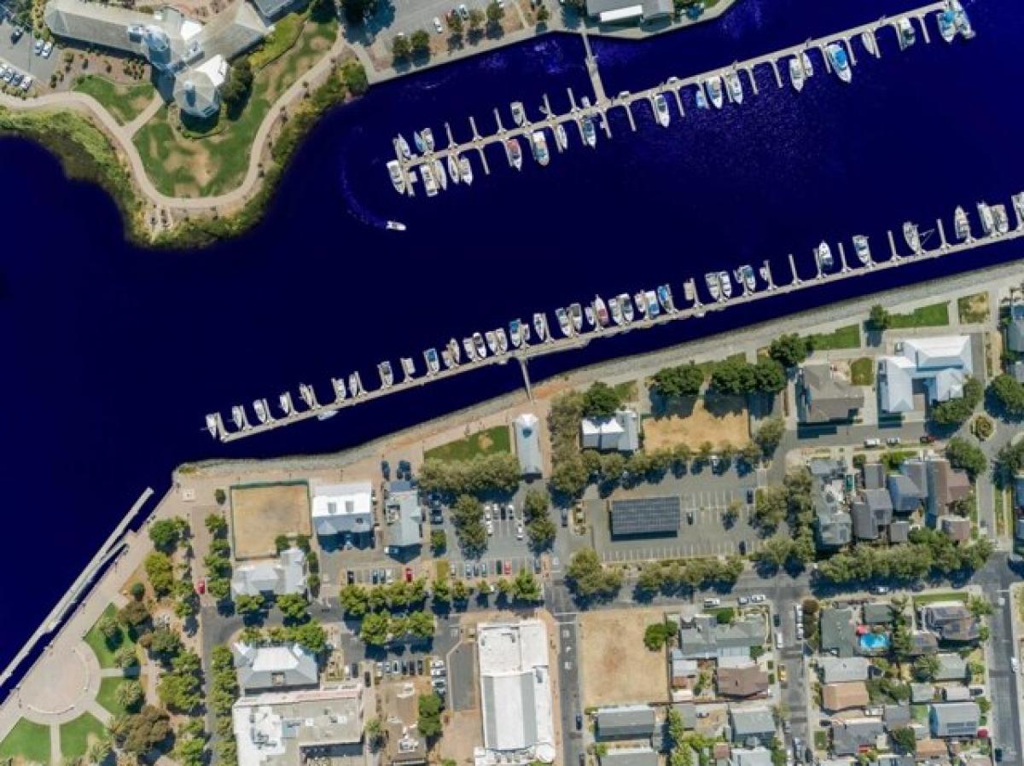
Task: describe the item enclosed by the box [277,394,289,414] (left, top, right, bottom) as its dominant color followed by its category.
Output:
white boat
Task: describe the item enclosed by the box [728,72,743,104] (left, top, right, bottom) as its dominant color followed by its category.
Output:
white boat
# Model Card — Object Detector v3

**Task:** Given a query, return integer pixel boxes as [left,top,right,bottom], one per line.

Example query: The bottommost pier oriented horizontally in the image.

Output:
[216,196,1024,442]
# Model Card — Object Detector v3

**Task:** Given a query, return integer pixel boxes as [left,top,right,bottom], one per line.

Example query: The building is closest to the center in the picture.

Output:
[515,413,541,475]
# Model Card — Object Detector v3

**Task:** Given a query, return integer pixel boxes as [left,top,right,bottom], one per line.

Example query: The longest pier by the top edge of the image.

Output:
[393,1,957,195]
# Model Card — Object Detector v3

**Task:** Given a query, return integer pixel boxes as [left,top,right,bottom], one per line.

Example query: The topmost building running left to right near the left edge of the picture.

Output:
[44,0,278,72]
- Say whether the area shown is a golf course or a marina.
marina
